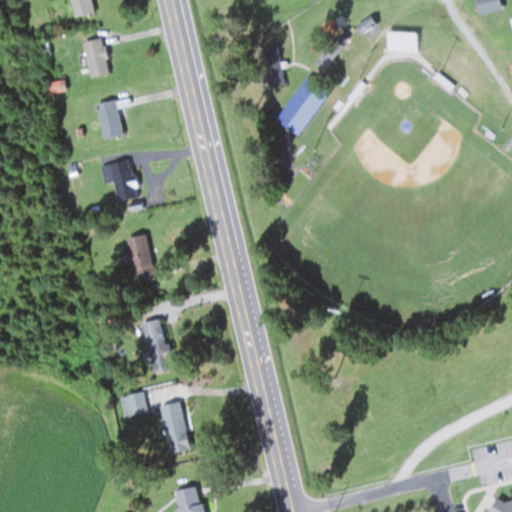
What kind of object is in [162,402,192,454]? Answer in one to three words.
house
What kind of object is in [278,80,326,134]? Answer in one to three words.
building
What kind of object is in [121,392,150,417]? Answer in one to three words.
building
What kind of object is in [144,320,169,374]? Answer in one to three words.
house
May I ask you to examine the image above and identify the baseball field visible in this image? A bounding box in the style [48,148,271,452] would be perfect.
[280,60,512,327]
